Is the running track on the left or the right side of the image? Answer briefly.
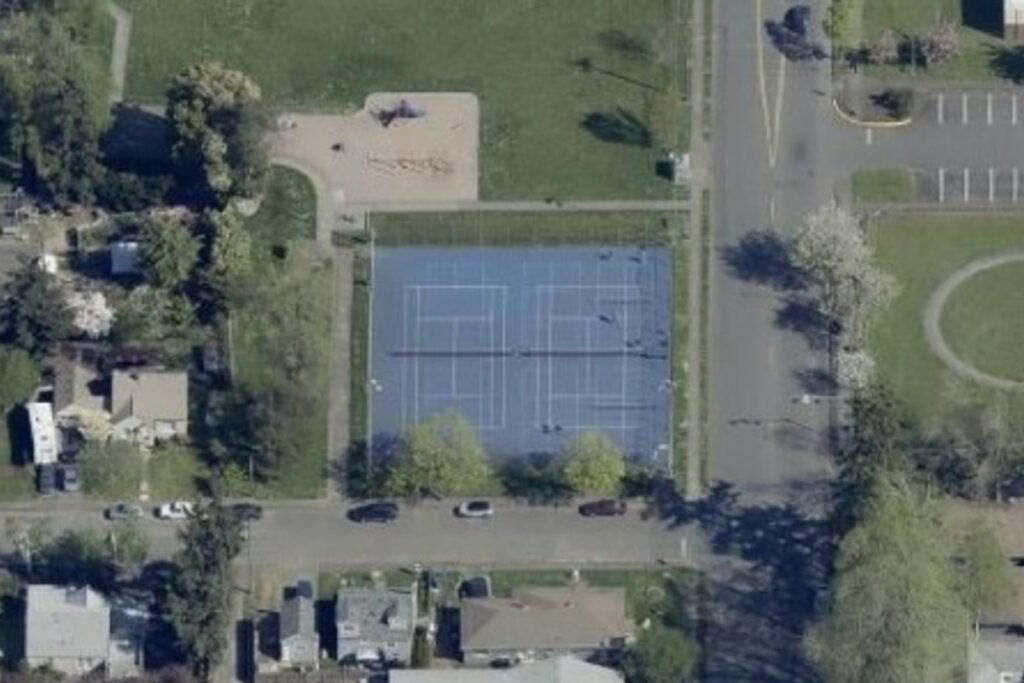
right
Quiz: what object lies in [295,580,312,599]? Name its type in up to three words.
car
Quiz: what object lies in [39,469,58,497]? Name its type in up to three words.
vehicle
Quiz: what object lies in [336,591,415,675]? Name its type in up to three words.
house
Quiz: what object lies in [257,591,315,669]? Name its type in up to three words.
house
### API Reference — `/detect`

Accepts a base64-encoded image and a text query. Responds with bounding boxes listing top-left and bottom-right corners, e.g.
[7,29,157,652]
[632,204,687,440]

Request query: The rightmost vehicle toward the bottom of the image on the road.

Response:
[581,503,626,522]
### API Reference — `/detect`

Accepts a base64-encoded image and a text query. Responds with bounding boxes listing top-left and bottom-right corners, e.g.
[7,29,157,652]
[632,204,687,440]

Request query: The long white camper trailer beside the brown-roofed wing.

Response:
[28,405,57,472]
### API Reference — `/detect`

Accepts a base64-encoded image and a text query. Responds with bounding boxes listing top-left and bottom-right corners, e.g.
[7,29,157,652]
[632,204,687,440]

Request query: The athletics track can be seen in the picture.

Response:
[926,256,1024,388]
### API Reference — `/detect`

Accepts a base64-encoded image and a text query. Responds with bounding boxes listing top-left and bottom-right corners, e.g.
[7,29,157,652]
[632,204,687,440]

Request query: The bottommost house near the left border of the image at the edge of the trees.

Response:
[25,584,143,683]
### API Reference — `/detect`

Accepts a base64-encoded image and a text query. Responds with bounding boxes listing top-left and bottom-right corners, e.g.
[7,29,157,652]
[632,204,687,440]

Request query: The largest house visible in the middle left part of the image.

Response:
[55,355,188,452]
